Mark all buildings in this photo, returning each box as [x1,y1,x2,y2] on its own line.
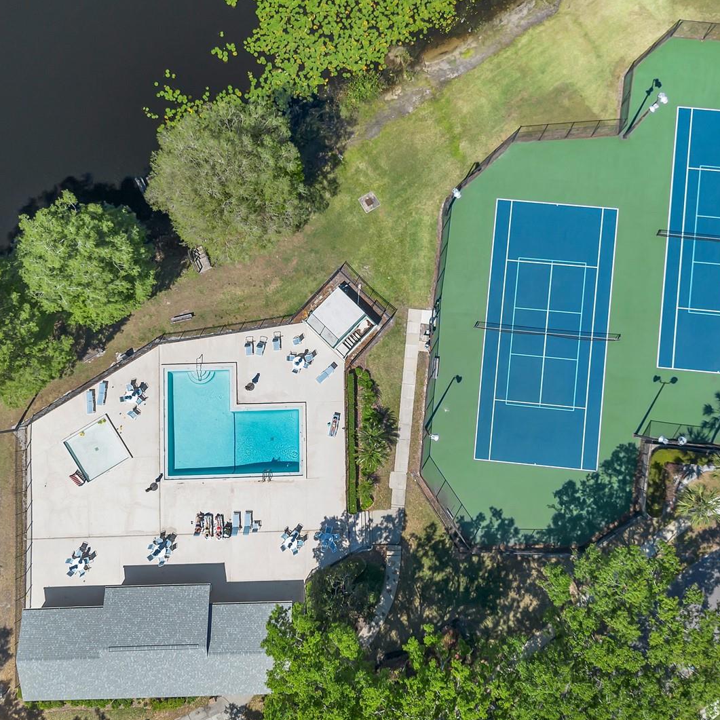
[16,582,297,699]
[308,286,379,358]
